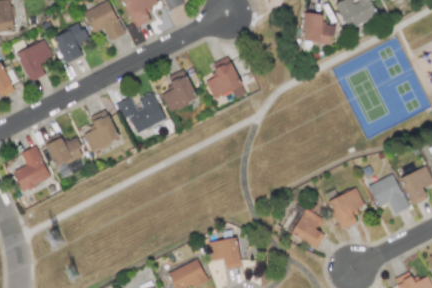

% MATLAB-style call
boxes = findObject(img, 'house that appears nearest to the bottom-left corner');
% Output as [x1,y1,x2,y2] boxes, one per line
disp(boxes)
[15,146,50,191]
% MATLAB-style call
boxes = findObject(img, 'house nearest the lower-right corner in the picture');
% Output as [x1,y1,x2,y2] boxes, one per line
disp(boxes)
[398,272,432,288]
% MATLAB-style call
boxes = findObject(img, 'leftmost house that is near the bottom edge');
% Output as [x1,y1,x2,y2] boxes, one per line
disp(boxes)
[171,259,210,288]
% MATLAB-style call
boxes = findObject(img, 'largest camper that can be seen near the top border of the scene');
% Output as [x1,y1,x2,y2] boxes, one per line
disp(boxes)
[324,6,336,24]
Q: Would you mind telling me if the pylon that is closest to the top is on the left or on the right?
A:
left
